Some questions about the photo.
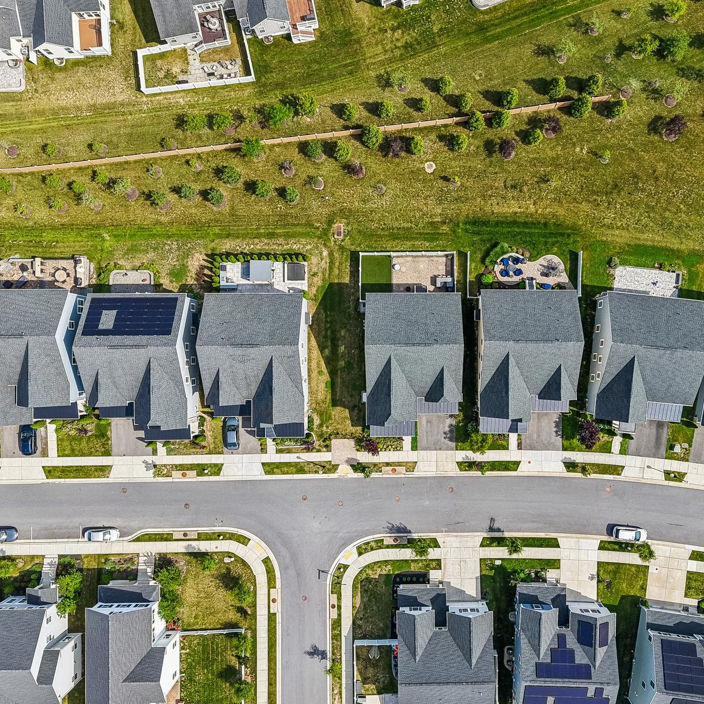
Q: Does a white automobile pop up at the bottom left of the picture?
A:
Yes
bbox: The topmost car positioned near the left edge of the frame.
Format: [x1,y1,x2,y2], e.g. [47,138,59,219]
[16,424,34,456]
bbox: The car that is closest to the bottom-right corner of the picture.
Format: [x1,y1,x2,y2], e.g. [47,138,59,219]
[614,526,650,544]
